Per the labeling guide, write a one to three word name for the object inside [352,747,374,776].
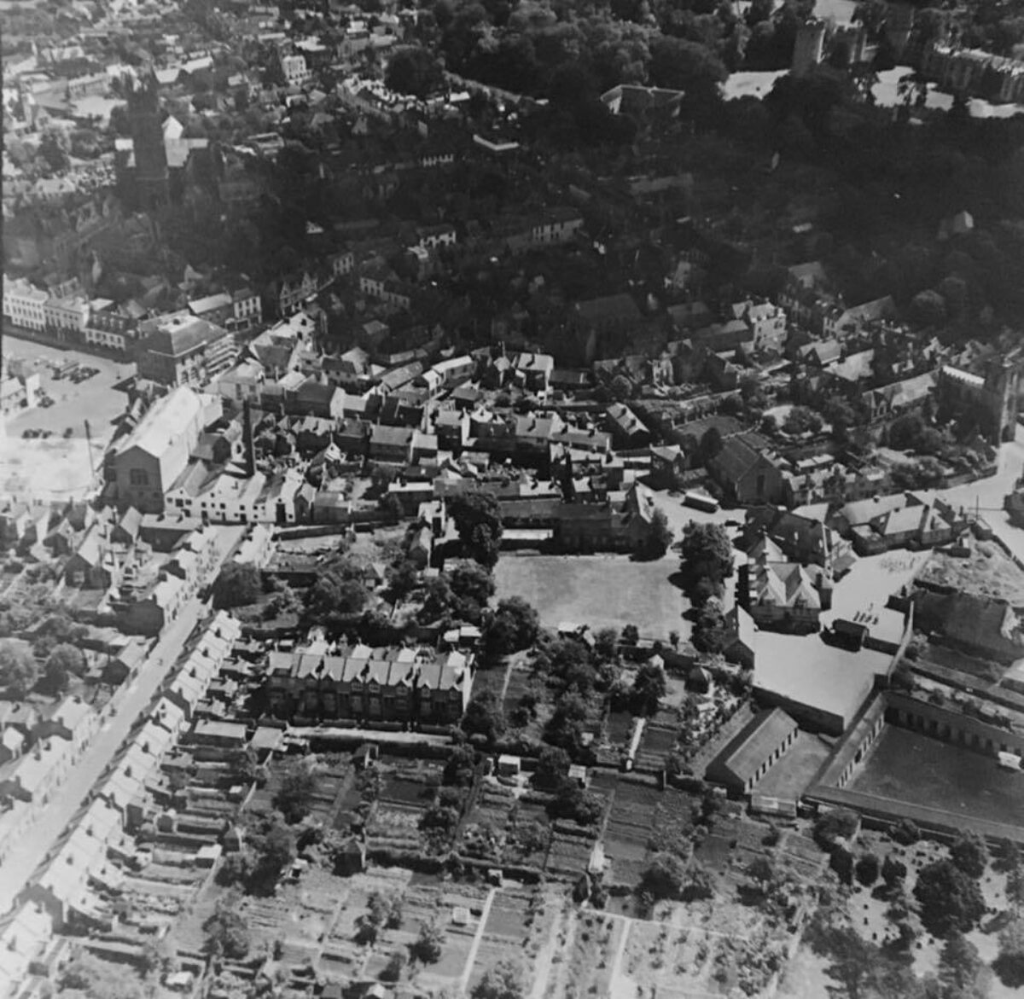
shed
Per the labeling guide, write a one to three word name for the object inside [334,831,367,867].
building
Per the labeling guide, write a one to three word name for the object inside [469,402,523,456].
house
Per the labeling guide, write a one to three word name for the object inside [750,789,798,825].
greenhouse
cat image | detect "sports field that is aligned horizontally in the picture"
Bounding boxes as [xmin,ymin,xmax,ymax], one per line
[492,552,692,640]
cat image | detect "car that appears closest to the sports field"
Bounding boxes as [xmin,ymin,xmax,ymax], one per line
[666,539,686,551]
